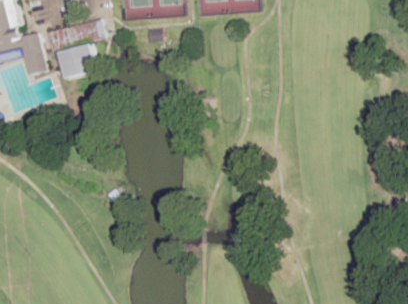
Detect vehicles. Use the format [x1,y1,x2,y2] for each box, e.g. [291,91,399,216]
[30,2,40,6]
[102,2,111,8]
[32,7,43,12]
[36,20,44,24]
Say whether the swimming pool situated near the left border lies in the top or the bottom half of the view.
top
